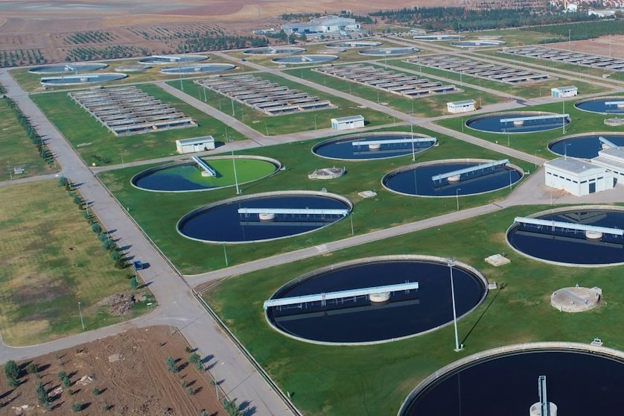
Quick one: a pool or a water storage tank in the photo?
water storage tank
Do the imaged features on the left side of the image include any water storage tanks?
Yes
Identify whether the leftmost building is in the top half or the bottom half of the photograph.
top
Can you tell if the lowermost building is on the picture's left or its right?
right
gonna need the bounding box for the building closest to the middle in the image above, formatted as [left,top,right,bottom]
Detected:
[325,113,364,131]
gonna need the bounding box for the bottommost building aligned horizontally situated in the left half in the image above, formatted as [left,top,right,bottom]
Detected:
[170,134,215,154]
